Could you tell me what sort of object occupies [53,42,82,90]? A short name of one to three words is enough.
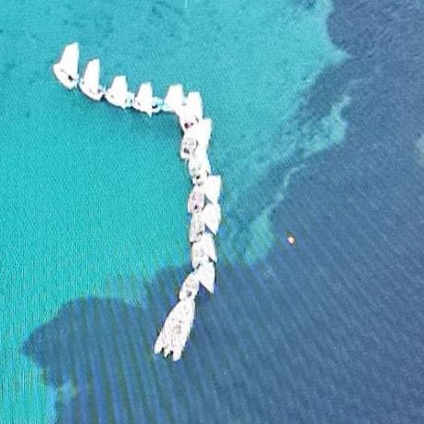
boat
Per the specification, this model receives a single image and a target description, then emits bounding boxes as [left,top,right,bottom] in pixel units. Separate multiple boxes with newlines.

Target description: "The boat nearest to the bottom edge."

[150,299,197,369]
